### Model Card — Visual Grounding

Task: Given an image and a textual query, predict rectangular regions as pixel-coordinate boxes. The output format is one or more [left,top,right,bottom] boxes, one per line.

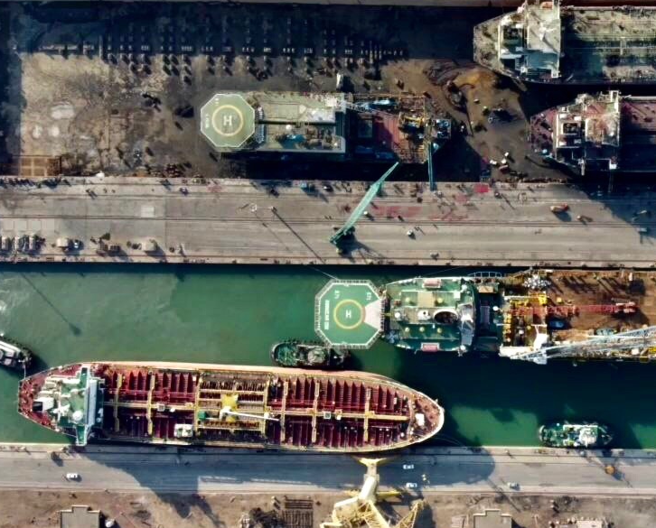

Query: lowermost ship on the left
[17,362,445,451]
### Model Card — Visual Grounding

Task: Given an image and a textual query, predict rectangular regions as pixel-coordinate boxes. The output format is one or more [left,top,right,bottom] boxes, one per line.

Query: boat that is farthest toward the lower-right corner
[540,420,614,449]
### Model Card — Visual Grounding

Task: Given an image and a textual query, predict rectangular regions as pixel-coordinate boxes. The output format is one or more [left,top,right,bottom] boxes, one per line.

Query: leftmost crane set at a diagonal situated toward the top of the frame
[322,161,401,253]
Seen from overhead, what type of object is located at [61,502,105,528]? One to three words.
building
